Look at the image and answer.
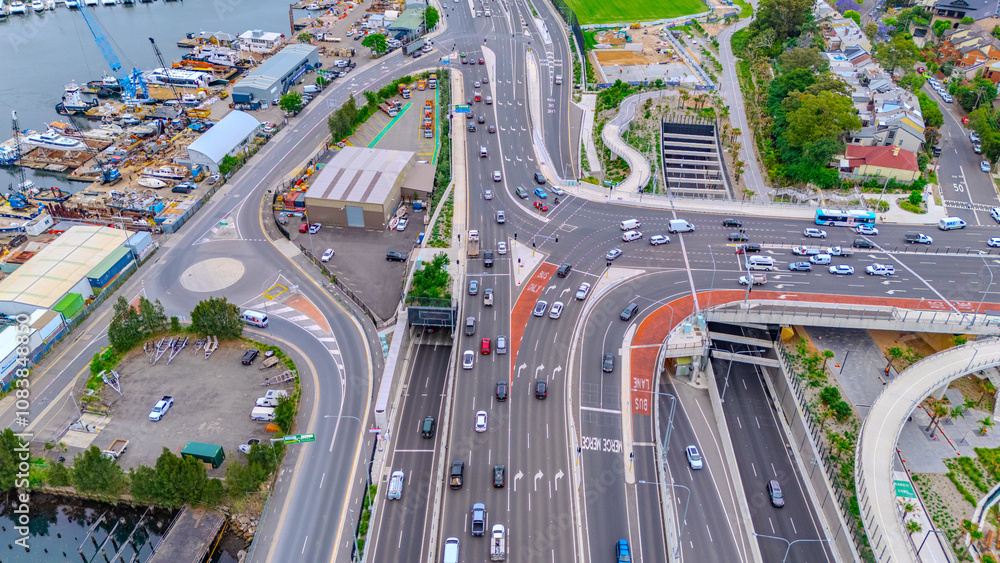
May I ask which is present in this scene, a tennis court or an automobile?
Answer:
automobile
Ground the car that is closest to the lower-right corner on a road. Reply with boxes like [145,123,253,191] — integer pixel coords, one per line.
[767,480,783,505]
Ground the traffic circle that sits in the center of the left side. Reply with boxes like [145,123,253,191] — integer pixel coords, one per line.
[180,257,245,292]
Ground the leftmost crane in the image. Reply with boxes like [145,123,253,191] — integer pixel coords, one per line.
[2,107,31,217]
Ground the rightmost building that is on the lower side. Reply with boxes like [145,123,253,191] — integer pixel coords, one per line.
[672,355,698,374]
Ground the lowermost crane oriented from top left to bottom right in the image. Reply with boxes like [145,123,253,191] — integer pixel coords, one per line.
[63,104,127,188]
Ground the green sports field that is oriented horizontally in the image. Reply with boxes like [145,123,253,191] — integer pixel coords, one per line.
[566,0,748,26]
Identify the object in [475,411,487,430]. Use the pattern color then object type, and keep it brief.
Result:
white vehicle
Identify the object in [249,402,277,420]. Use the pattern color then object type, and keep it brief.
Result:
white vehicle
